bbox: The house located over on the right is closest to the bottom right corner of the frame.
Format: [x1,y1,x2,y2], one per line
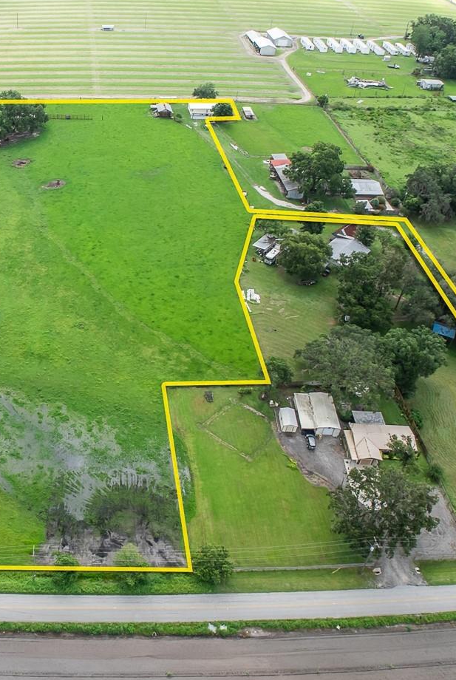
[336,424,419,466]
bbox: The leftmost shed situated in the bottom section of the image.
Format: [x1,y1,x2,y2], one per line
[274,406,298,433]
